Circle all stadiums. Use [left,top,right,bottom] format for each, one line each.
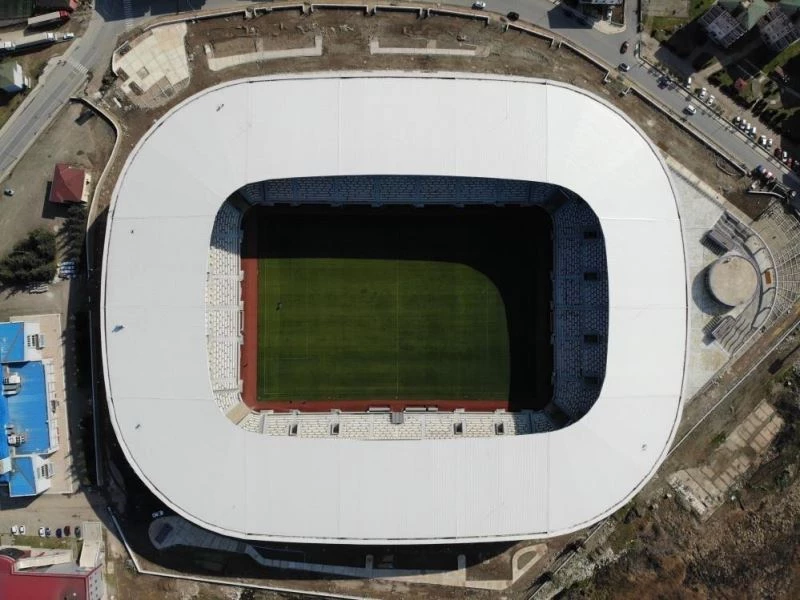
[100,70,688,545]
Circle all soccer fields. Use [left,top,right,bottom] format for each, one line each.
[241,205,552,412]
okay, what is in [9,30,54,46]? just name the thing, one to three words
vehicle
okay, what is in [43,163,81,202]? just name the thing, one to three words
house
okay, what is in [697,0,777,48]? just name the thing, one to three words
building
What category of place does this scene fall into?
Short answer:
sports ground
